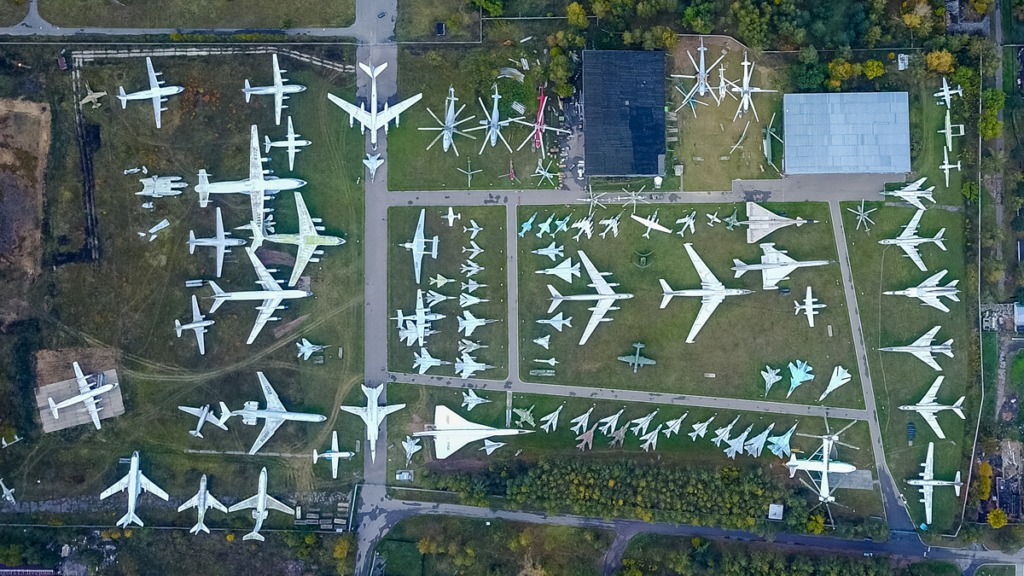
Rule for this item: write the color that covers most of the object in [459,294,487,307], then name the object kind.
white airplane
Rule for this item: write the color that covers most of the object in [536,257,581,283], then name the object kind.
white airplane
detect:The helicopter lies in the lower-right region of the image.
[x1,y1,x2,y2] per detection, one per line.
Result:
[786,412,859,528]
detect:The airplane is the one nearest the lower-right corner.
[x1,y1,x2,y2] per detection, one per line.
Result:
[905,442,966,524]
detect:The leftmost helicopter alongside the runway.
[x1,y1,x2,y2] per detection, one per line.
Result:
[418,80,476,156]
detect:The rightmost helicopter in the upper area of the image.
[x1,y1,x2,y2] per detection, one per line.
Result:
[847,199,877,238]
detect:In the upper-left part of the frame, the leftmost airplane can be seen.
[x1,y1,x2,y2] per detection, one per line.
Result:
[78,86,108,110]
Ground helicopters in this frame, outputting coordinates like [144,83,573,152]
[709,59,740,104]
[498,158,521,183]
[457,155,482,187]
[463,77,525,154]
[508,85,571,158]
[762,113,785,177]
[671,36,725,106]
[532,157,554,185]
[418,80,476,156]
[577,185,614,215]
[847,199,877,238]
[613,186,650,213]
[724,44,778,122]
[730,121,749,154]
[786,412,859,528]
